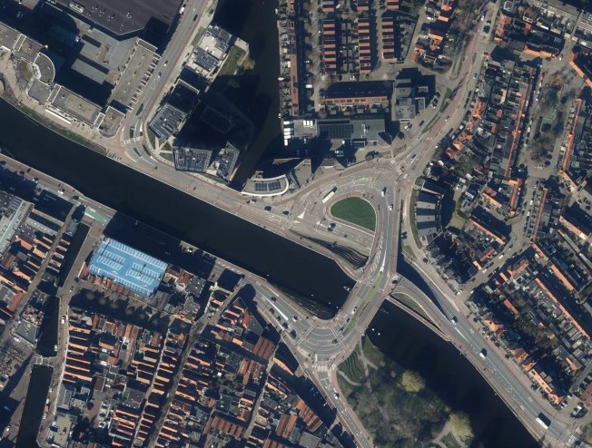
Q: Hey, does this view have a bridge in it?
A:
Yes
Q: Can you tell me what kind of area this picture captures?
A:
residential area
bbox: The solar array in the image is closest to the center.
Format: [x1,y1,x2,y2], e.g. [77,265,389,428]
[250,177,287,195]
